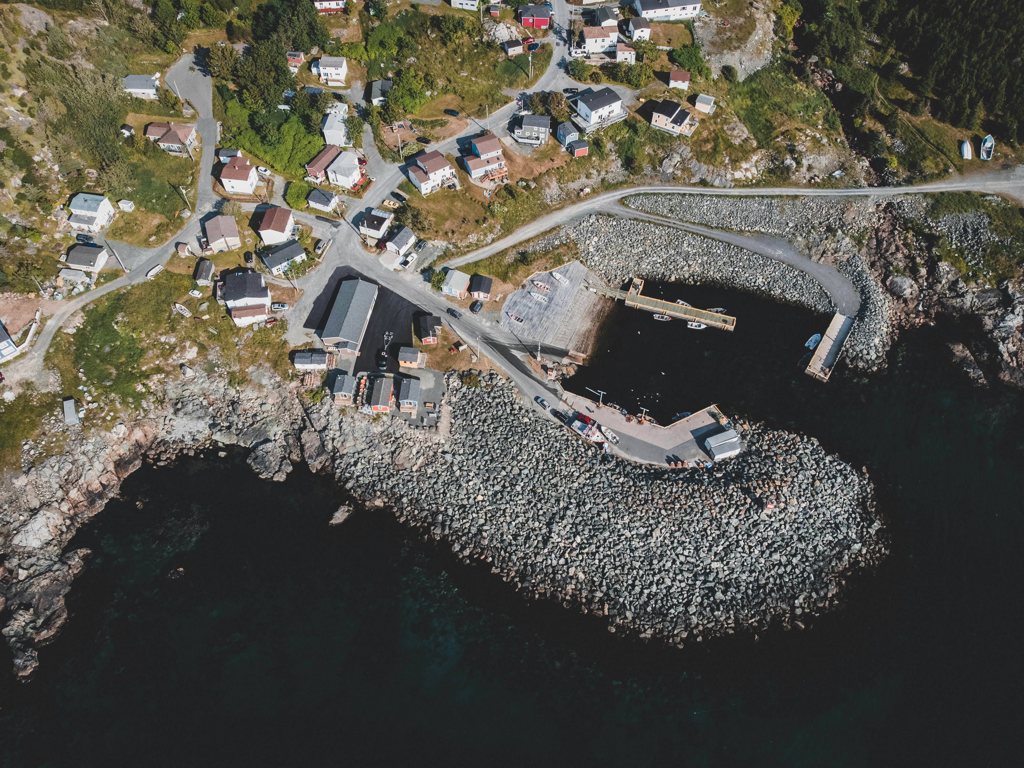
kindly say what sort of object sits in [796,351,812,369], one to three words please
boat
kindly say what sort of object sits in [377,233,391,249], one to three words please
vehicle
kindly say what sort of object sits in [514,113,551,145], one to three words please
house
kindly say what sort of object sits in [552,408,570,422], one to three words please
car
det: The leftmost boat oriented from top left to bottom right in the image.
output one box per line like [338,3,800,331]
[174,299,192,316]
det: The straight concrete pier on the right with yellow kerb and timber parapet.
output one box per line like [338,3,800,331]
[805,313,858,385]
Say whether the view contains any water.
Yes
